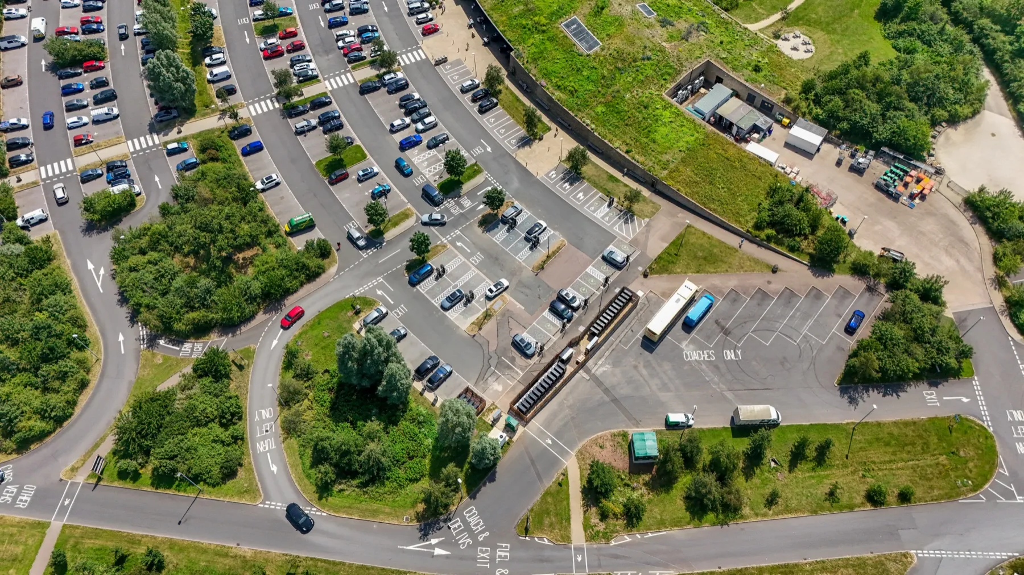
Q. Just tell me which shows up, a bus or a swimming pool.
bus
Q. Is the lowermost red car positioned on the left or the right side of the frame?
left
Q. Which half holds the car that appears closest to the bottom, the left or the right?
left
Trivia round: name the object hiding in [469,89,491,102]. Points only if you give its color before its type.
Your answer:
black vehicle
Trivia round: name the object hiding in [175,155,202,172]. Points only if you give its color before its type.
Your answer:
blue car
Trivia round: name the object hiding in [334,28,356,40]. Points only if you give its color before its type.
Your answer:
white vehicle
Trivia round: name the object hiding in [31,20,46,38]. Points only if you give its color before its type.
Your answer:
white vehicle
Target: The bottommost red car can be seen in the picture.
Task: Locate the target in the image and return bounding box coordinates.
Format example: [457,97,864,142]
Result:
[280,305,306,328]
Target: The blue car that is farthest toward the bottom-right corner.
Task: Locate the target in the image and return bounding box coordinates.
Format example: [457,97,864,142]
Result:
[844,310,865,334]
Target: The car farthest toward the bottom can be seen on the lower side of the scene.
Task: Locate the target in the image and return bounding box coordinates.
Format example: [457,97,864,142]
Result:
[286,502,314,534]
